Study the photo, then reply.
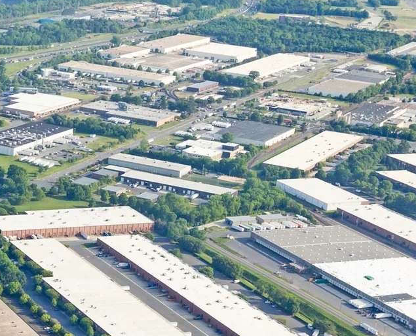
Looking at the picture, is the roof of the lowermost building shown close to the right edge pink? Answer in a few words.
No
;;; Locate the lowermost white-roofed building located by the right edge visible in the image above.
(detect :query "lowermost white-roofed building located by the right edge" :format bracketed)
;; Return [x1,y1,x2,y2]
[313,257,416,332]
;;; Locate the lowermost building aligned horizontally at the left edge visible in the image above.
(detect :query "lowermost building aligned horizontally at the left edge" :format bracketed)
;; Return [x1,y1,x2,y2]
[0,206,153,239]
